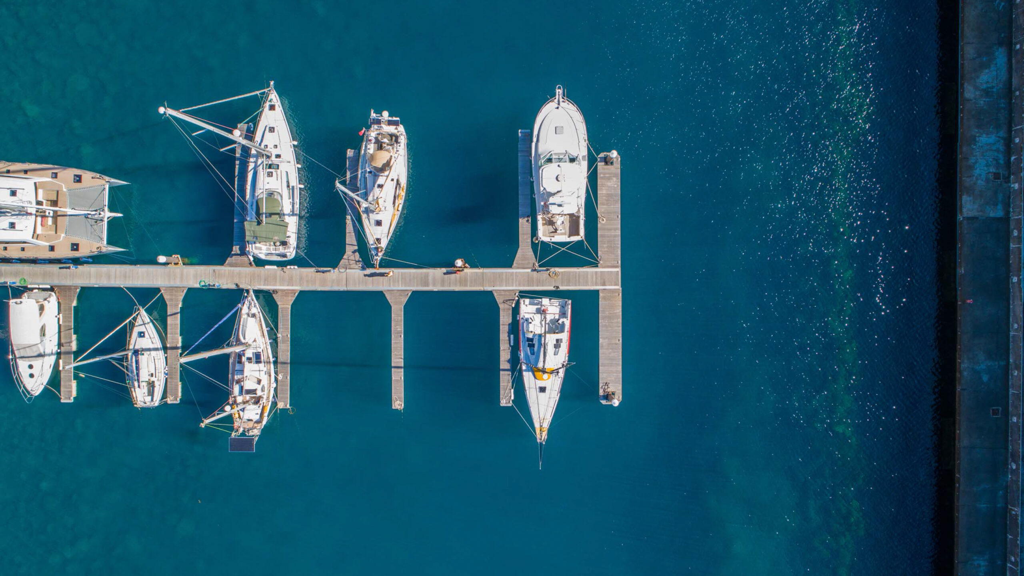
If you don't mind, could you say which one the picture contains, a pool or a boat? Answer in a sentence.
I can see a boat in this picture.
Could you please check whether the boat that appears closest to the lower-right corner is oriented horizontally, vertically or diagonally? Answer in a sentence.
In this picture, the boat that appears closest to the lower-right corner lies vertically.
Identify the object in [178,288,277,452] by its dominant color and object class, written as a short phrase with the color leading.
white boat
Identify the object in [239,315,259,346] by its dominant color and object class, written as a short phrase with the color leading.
white boat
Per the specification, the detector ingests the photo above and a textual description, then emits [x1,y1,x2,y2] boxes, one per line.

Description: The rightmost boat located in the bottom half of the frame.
[518,298,576,469]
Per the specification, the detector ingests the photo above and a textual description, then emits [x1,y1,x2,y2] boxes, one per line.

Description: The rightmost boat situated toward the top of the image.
[531,82,589,243]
